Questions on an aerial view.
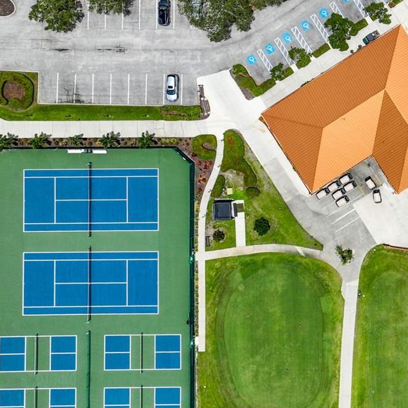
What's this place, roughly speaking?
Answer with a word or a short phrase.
sports ground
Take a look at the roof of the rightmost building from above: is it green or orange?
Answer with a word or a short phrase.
orange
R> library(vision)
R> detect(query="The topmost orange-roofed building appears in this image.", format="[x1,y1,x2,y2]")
[261,24,408,194]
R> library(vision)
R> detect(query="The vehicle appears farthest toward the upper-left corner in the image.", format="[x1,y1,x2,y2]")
[157,0,171,26]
